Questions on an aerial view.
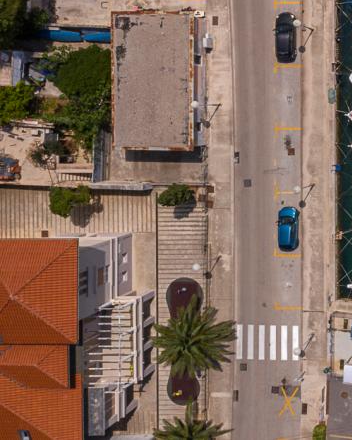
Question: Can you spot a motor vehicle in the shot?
Yes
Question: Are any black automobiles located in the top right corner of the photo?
Yes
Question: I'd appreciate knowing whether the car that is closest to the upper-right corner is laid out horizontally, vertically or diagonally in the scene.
vertically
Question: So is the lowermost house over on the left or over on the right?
left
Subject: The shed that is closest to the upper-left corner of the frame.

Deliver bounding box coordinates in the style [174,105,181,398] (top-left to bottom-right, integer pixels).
[12,51,41,86]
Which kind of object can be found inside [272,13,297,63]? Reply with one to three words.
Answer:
car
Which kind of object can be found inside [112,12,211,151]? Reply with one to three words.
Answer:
building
